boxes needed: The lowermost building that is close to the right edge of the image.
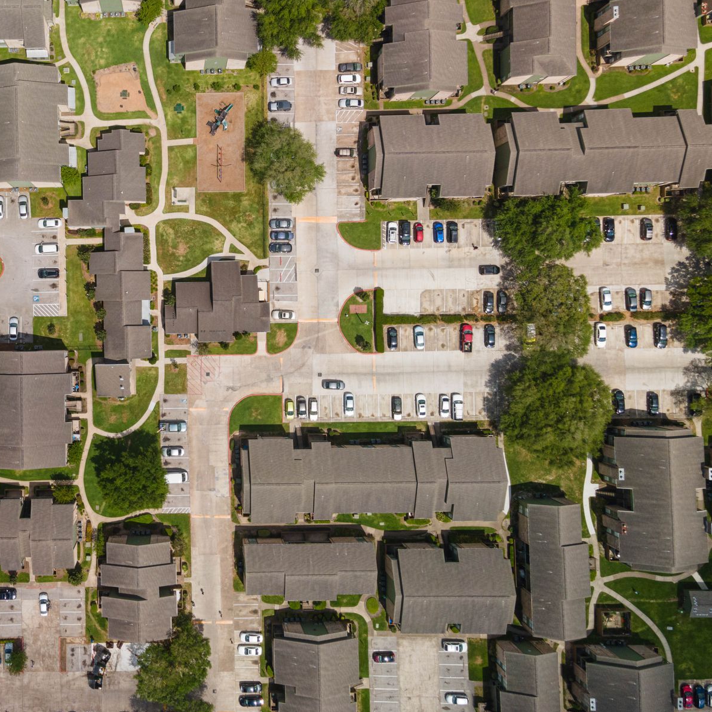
[568,647,683,712]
